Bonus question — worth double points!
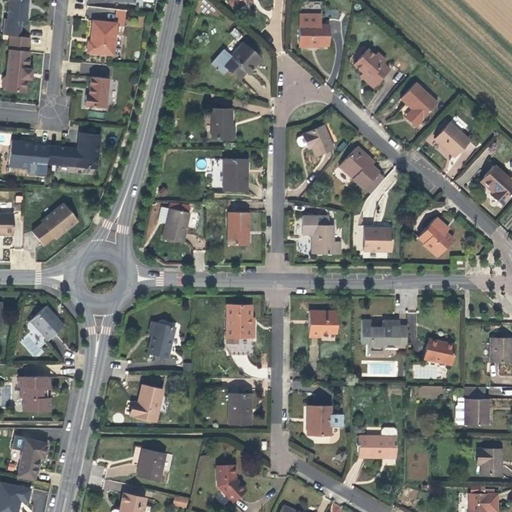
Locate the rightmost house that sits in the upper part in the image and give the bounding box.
[482,166,512,208]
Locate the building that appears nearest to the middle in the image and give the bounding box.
[228,212,251,246]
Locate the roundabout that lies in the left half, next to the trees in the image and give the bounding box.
[66,242,136,312]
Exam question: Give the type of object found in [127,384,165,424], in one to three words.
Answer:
house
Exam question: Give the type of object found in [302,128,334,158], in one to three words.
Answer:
house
